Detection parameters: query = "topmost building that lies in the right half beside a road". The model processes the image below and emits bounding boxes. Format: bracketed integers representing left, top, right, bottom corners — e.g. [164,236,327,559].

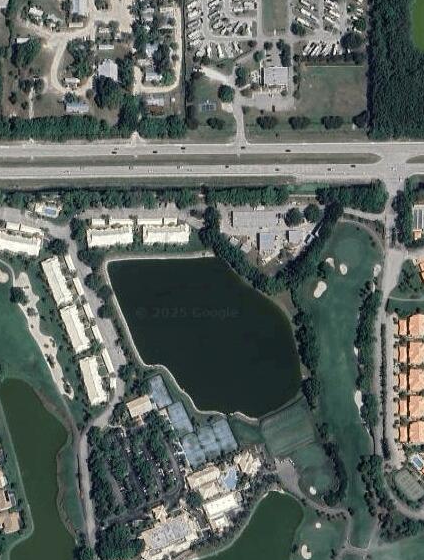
[265,66,289,87]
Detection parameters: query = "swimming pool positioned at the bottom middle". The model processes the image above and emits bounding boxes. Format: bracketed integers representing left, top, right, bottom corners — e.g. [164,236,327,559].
[219,461,244,494]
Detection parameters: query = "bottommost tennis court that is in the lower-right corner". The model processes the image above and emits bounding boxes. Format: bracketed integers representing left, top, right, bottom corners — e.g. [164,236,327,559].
[394,466,424,503]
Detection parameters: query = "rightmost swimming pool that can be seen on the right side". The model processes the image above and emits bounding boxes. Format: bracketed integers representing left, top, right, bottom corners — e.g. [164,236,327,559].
[410,453,424,474]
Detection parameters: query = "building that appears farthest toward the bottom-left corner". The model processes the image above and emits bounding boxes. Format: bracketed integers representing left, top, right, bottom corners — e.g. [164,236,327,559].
[0,510,21,532]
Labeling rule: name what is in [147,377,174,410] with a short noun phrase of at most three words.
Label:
tennis court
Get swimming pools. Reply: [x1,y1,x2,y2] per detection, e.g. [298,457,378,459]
[219,461,244,494]
[410,453,424,474]
[35,201,62,218]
